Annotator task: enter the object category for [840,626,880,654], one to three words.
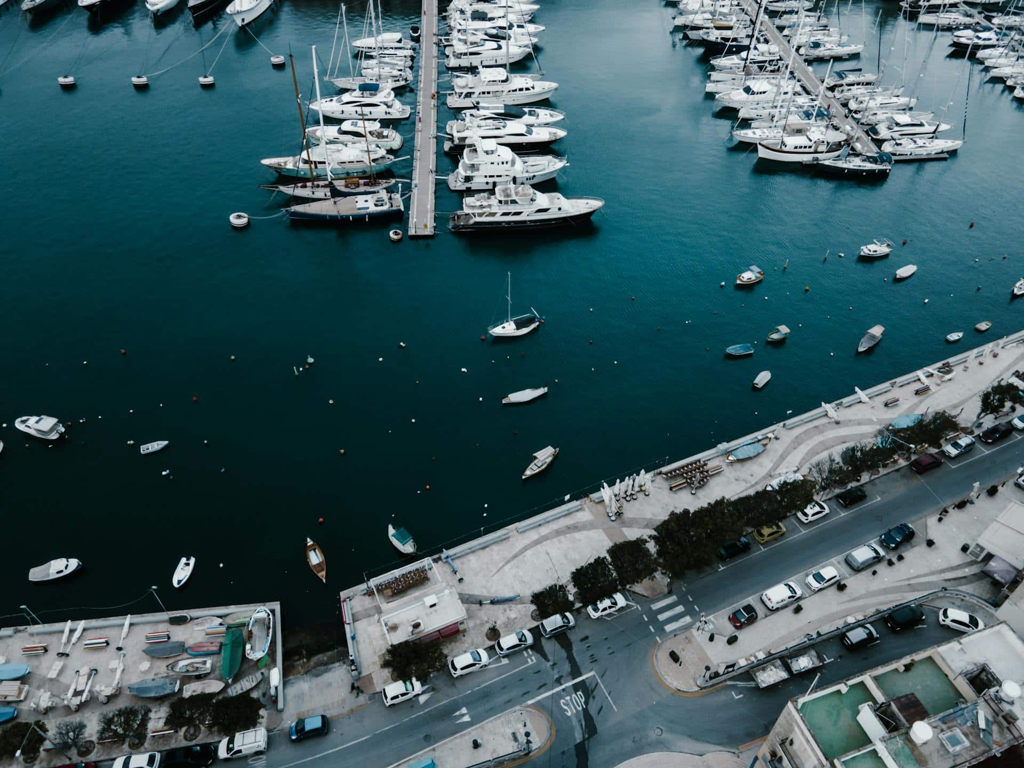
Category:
car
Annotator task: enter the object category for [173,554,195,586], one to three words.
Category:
boat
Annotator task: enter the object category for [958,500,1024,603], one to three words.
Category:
building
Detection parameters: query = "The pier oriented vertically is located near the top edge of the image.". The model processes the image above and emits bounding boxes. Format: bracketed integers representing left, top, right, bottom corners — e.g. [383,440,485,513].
[409,0,438,238]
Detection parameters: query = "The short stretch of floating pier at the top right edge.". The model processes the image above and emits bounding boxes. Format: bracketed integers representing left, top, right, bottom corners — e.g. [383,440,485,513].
[964,5,1024,49]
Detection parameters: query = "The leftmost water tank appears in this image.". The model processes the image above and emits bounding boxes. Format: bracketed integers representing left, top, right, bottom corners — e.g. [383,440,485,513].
[905,722,931,748]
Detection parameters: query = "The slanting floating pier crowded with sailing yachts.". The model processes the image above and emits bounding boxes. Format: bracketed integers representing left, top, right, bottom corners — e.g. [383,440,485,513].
[739,0,880,156]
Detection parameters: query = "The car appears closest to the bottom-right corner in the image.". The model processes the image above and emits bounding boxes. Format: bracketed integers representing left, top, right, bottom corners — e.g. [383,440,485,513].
[939,611,980,635]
